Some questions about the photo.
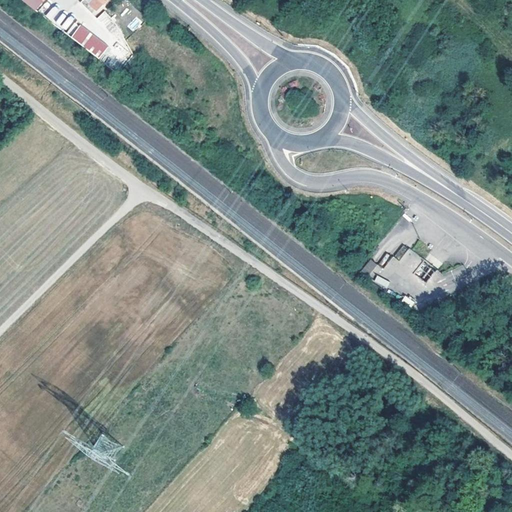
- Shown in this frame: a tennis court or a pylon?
pylon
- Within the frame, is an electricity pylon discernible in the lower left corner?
Yes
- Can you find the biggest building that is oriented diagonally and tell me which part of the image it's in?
top left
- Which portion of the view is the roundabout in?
top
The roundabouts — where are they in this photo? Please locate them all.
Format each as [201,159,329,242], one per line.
[251,52,351,152]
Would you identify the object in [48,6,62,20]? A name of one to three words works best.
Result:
vehicle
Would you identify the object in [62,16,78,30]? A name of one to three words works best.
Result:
vehicle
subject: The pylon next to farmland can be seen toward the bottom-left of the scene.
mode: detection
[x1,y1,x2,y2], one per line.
[63,430,131,476]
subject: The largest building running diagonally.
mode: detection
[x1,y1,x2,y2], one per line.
[72,28,110,60]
